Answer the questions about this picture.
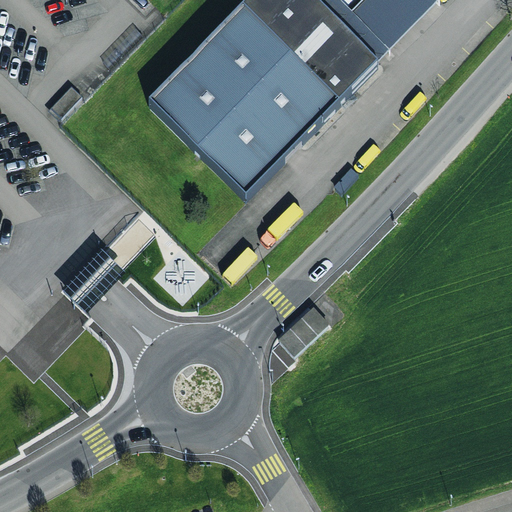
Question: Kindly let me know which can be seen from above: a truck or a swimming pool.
truck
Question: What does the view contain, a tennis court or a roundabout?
roundabout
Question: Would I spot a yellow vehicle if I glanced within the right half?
Yes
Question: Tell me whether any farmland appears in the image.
Yes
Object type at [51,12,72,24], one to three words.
vehicle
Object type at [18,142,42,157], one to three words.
car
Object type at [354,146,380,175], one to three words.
vehicle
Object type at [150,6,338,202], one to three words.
building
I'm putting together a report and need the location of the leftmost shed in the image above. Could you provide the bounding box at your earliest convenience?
[50,87,82,122]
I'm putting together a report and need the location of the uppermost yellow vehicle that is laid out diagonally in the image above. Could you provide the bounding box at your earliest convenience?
[400,94,426,122]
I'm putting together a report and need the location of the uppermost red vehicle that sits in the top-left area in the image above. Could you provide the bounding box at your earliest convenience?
[44,0,65,14]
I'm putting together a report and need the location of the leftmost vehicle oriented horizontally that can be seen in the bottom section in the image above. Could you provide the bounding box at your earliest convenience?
[128,429,152,442]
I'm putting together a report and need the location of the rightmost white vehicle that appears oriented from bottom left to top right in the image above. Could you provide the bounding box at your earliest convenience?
[310,262,332,282]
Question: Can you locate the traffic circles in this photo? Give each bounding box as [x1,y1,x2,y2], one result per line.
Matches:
[132,324,262,453]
